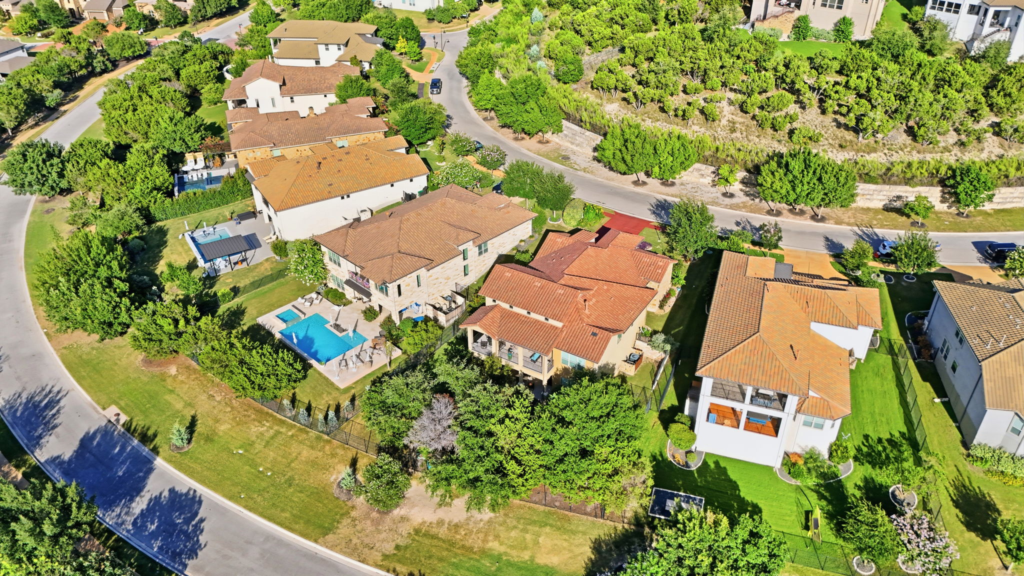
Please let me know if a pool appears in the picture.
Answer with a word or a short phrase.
Yes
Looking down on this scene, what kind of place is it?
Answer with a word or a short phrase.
residential area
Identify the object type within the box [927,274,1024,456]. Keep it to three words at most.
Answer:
house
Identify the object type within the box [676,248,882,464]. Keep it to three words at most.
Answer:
house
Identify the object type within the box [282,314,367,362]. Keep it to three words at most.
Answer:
swimming pool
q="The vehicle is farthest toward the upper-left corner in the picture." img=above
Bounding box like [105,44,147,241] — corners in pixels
[429,79,443,93]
